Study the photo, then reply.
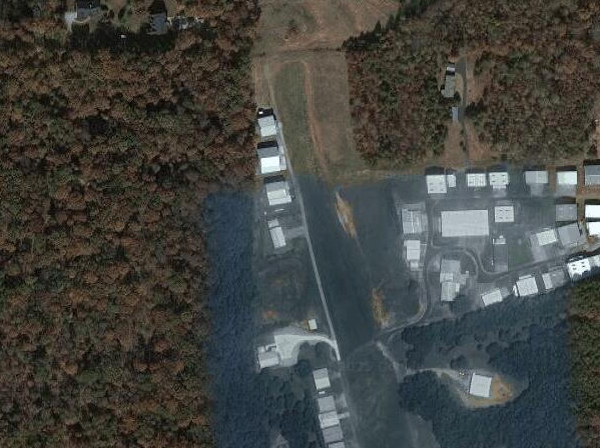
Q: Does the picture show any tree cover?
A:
Yes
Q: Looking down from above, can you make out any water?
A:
No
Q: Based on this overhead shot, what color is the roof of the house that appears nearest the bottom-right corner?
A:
white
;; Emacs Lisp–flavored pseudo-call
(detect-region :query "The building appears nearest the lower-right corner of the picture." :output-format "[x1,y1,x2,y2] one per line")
[470,373,492,397]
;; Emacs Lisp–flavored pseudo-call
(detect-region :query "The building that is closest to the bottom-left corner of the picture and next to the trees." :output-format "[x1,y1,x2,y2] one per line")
[259,344,279,368]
